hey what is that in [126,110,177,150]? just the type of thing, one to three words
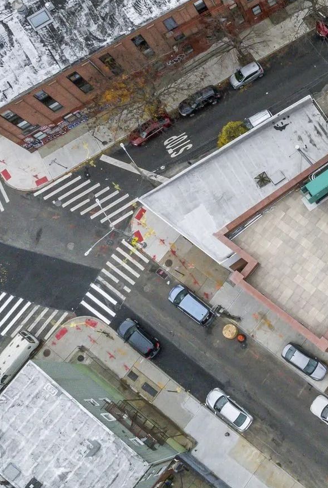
car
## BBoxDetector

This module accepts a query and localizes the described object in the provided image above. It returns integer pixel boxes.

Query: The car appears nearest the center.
[164,281,221,333]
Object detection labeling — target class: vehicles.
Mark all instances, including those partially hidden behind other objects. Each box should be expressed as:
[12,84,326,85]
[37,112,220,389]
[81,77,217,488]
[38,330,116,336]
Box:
[0,325,47,395]
[305,389,328,427]
[112,315,166,364]
[276,337,328,386]
[126,110,177,150]
[177,82,226,121]
[164,281,221,333]
[224,57,271,93]
[201,384,258,439]
[238,101,279,136]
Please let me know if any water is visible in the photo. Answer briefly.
No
